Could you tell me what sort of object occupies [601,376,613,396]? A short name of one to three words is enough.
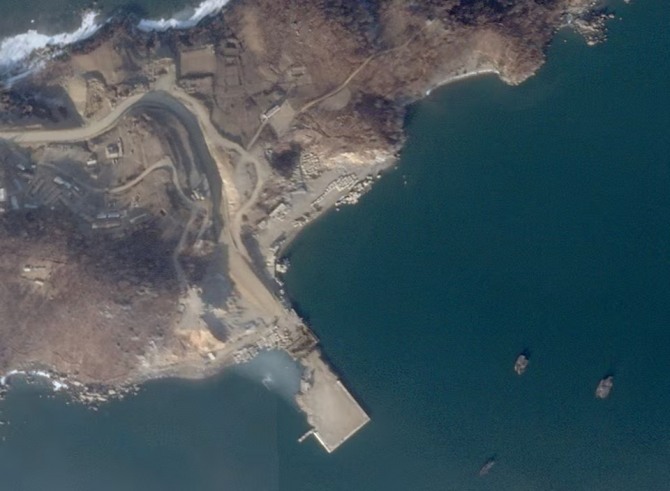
boat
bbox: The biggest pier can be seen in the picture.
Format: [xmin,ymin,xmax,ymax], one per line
[295,348,370,452]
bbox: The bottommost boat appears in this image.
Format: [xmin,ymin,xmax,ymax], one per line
[478,459,493,476]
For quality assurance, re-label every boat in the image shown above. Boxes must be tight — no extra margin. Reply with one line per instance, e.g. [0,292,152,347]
[512,356,522,374]
[601,376,613,396]
[478,459,493,476]
[594,379,606,399]
[520,354,529,371]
